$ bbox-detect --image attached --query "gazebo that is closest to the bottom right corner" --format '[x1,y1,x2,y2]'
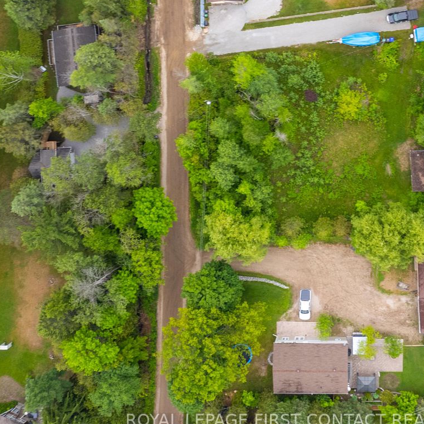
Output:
[356,370,377,393]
